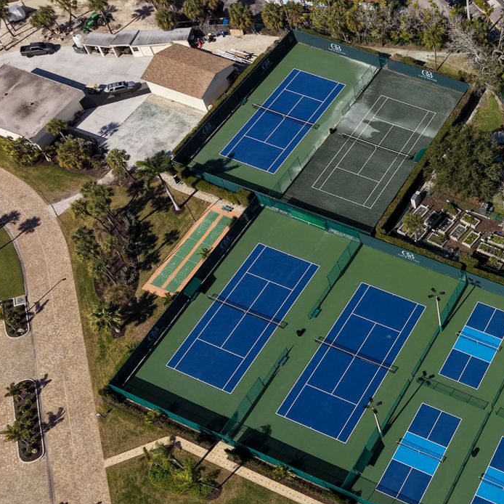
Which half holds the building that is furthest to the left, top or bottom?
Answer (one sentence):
The top half of the photo is where the building that is furthest to the left is.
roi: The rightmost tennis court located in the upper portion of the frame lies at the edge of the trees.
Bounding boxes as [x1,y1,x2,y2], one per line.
[285,66,464,234]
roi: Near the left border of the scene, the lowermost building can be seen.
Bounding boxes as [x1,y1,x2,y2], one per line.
[0,64,89,150]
